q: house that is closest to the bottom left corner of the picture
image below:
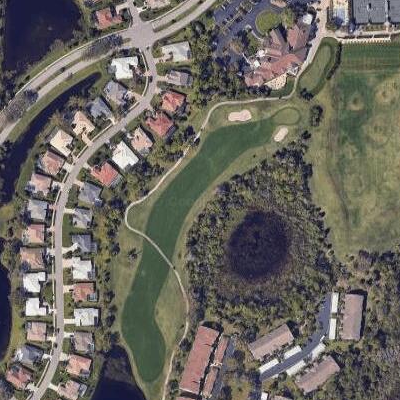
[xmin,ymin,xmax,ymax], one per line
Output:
[8,363,31,390]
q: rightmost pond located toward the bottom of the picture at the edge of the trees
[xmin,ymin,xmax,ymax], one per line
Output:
[229,211,289,278]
